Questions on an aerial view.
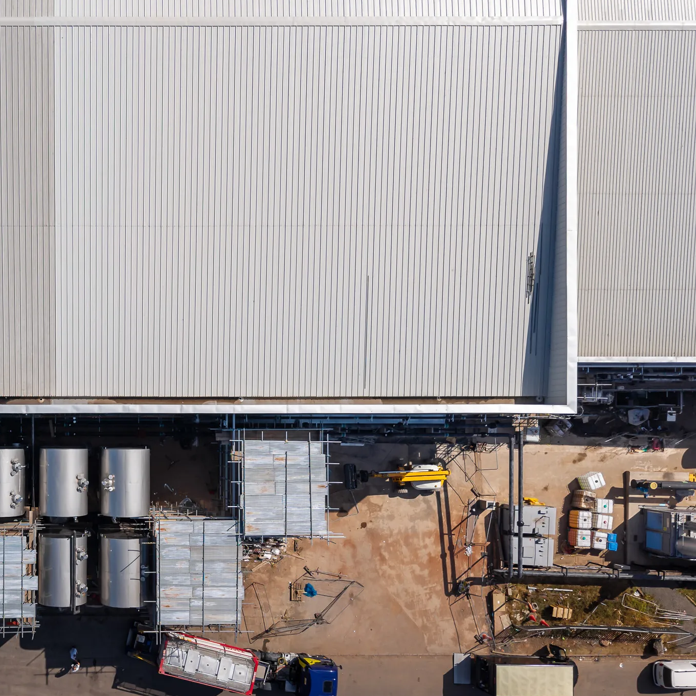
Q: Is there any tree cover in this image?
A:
No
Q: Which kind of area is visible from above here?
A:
industrial area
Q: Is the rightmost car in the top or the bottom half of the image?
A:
bottom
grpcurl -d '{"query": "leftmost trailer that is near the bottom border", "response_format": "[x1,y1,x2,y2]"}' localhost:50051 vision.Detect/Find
[129,614,267,695]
